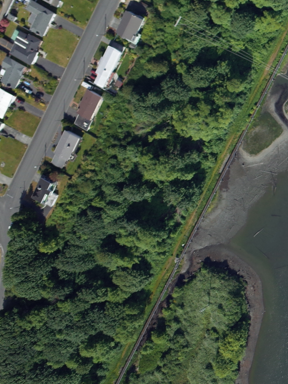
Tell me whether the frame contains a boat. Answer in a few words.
No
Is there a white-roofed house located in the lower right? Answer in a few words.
No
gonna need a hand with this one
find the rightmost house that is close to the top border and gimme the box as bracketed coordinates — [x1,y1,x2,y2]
[117,9,147,45]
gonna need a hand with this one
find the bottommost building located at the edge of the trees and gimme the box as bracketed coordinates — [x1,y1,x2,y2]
[31,176,62,207]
